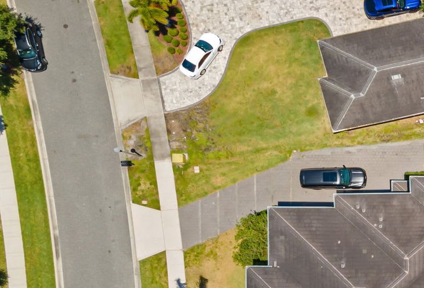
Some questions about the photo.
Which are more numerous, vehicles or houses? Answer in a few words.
vehicles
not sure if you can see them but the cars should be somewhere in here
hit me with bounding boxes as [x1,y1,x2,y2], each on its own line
[362,0,421,21]
[298,164,366,193]
[18,18,52,74]
[179,32,225,83]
